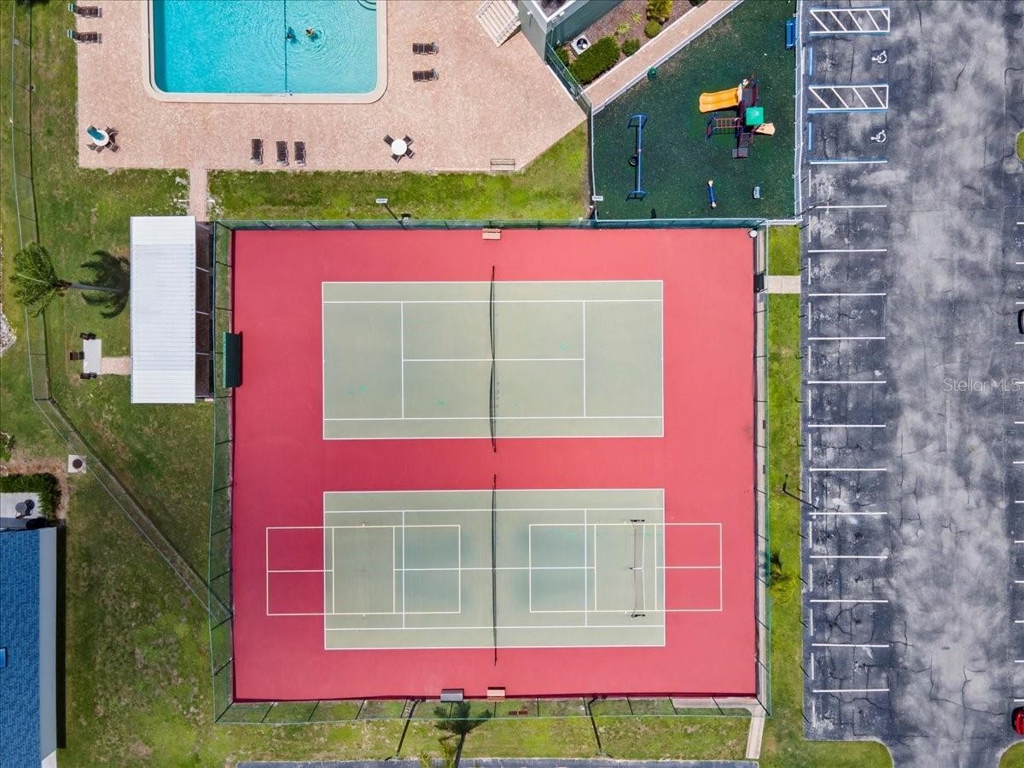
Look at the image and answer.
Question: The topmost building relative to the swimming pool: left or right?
to the right of it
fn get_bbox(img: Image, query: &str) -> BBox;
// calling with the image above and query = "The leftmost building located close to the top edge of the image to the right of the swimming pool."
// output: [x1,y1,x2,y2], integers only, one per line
[504,0,627,65]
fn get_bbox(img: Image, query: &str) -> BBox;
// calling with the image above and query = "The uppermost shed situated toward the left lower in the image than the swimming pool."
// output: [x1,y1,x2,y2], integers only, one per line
[131,215,209,404]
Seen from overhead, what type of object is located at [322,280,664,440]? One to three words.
tennis court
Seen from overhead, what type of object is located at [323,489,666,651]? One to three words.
tennis court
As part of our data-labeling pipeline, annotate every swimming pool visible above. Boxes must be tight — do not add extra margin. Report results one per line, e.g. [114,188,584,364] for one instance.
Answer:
[144,0,386,103]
